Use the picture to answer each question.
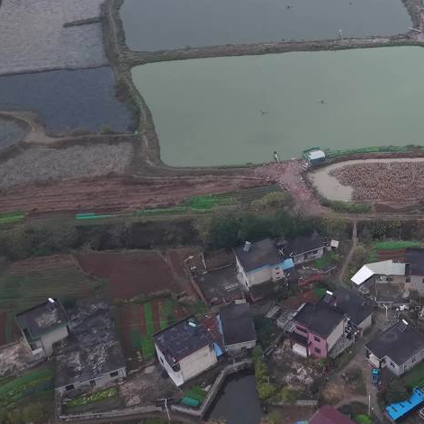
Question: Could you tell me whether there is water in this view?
Yes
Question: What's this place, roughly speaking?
residential area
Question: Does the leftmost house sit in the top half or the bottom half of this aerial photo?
bottom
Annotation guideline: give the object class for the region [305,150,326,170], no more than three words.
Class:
shed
